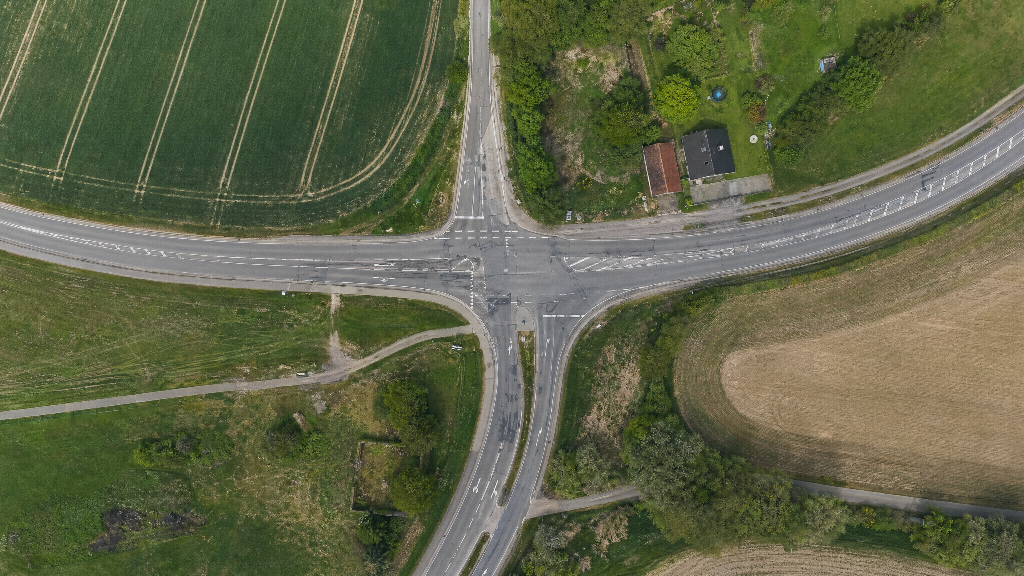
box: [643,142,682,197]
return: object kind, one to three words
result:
barn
